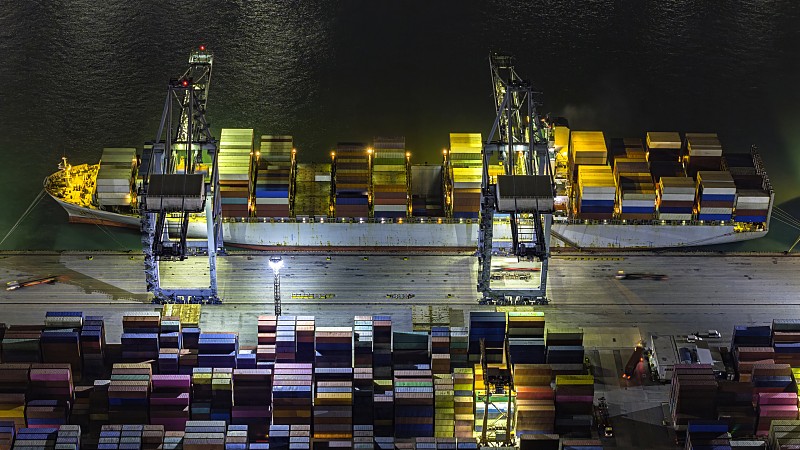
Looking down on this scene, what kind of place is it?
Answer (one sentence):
It's a port.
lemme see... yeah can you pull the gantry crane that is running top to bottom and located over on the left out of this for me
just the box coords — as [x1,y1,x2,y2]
[131,43,227,304]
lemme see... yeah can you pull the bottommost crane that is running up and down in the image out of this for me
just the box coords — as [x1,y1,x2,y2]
[480,336,519,439]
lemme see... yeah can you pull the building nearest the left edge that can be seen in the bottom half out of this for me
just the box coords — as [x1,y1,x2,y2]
[649,334,680,378]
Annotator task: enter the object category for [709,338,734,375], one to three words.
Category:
shed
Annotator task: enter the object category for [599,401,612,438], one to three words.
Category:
vehicle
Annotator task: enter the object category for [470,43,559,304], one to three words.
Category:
container crane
